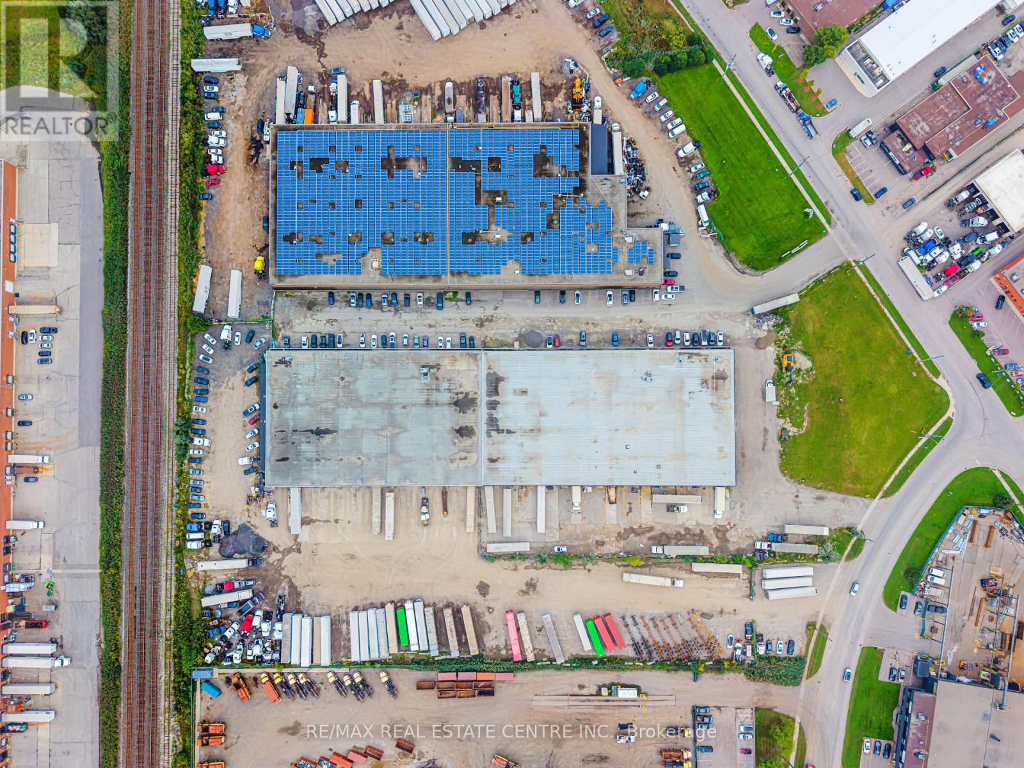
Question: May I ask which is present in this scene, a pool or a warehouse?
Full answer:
The one in the frame is a warehouse.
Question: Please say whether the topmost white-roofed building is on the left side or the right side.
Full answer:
The topmost white-roofed building appears in the right half of the scene.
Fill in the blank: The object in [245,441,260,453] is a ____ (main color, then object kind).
white vehicle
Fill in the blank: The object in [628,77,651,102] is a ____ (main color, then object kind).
blue truck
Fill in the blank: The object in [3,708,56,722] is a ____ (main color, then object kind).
white trailer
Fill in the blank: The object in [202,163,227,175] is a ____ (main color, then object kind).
red vehicle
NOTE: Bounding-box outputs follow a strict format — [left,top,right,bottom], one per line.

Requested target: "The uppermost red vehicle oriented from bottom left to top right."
[907,167,931,185]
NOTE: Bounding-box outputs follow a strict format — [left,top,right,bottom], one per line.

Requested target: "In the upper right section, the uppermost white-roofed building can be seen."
[835,0,1016,99]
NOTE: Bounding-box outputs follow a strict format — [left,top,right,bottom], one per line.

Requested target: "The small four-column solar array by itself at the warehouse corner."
[629,241,654,264]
